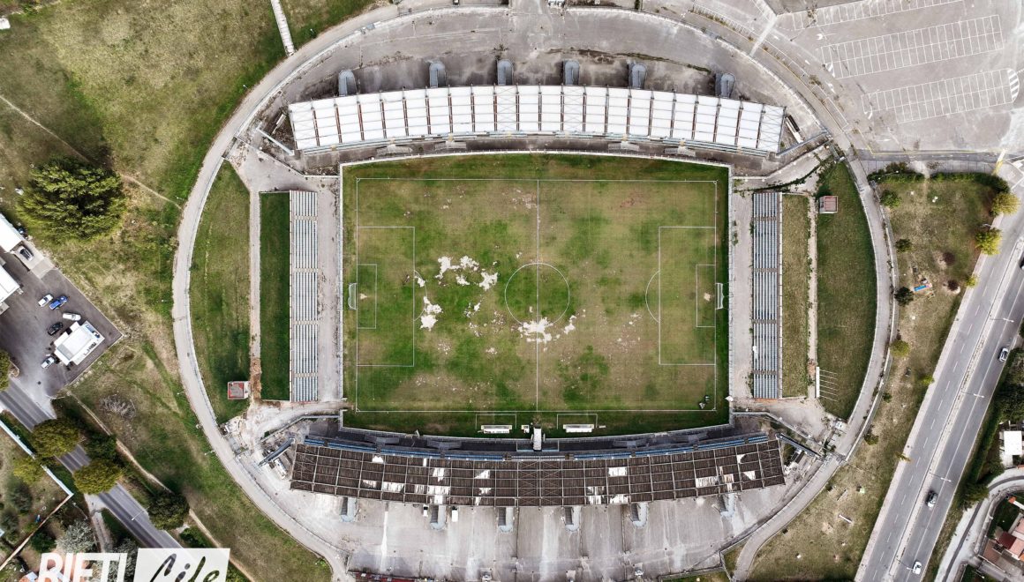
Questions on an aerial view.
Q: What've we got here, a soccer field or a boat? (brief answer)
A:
soccer field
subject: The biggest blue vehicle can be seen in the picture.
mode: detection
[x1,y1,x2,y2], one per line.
[48,295,68,309]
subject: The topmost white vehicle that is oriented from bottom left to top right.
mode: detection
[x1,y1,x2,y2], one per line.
[38,294,54,307]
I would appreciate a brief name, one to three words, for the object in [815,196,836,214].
shed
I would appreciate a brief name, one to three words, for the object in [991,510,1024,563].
house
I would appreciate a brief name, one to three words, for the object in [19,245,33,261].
car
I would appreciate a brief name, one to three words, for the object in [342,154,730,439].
soccer field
